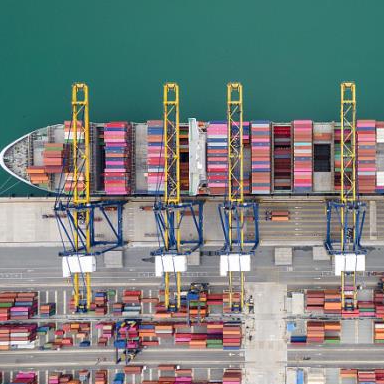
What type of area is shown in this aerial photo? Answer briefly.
port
